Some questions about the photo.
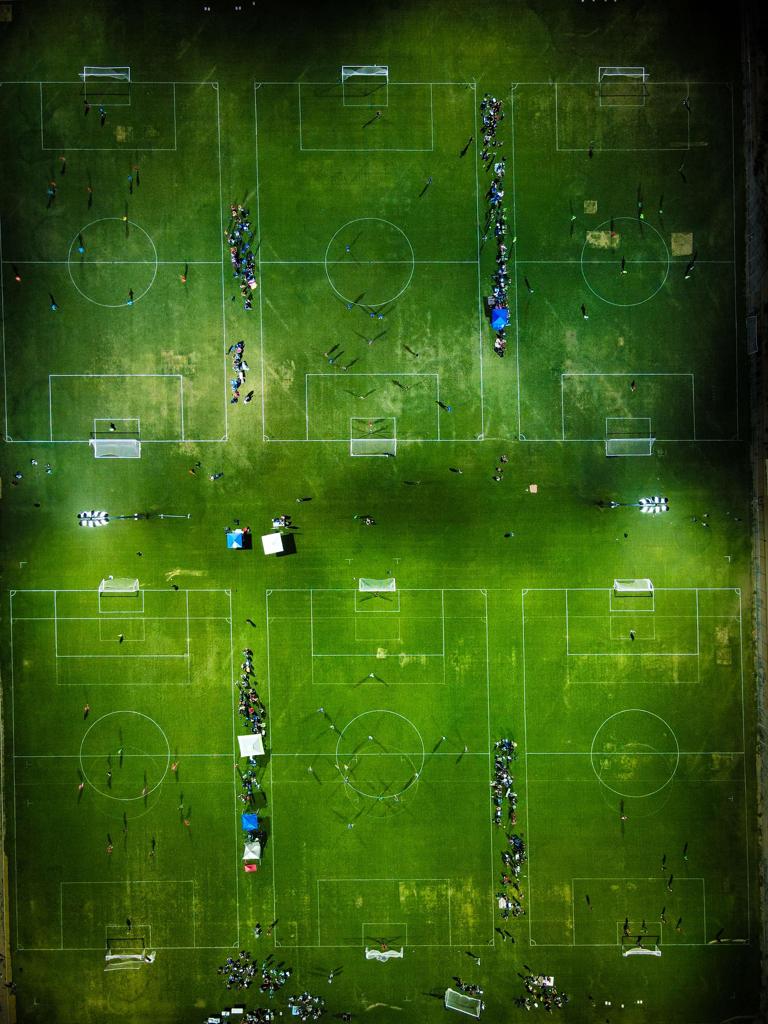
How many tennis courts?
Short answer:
0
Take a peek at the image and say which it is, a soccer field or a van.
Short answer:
soccer field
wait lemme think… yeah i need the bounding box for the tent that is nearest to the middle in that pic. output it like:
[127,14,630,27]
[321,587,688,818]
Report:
[262,533,286,554]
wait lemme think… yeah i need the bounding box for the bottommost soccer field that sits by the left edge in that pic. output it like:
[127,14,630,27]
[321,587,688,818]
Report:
[11,590,239,949]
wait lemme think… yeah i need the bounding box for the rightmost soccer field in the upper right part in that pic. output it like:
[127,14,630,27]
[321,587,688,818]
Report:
[513,83,739,440]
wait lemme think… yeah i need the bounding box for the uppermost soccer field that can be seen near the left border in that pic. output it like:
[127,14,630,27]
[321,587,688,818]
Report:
[0,83,227,441]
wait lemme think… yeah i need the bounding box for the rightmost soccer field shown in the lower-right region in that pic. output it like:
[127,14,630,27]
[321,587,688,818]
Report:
[523,588,749,946]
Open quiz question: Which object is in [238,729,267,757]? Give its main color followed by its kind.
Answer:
white tent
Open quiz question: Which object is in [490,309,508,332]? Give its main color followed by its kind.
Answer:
blue tent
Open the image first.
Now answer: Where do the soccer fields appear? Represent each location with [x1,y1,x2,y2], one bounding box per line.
[256,83,483,440]
[523,588,749,946]
[0,83,227,441]
[267,589,494,947]
[11,590,239,949]
[513,83,739,440]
